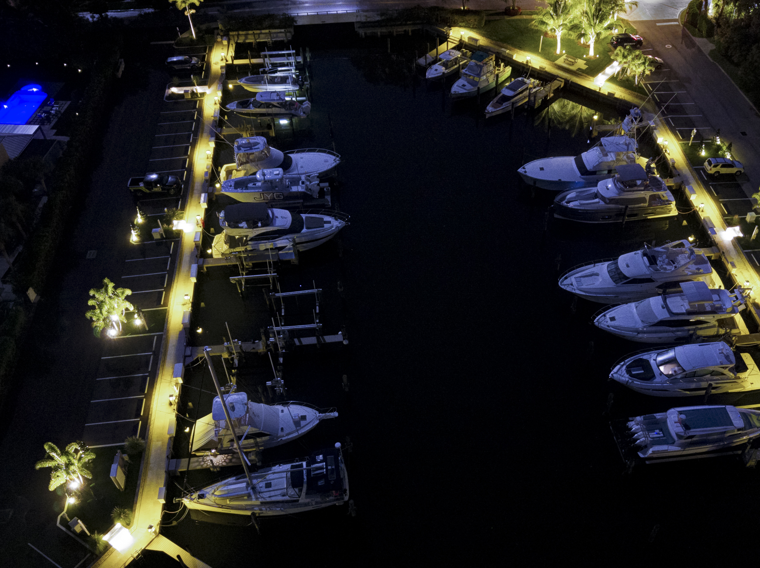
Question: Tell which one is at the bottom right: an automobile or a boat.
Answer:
boat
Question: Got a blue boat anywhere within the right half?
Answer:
Yes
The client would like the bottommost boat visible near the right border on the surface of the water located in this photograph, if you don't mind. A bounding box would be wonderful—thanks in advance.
[629,404,760,452]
